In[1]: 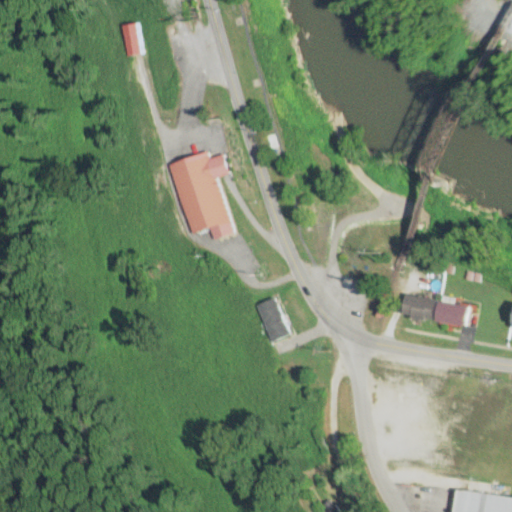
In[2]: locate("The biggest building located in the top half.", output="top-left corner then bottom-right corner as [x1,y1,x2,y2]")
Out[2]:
[170,152,237,241]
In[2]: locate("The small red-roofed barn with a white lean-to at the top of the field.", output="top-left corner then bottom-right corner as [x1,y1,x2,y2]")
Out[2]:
[122,21,147,56]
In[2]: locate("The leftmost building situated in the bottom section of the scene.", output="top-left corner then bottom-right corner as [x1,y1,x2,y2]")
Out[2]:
[256,298,292,342]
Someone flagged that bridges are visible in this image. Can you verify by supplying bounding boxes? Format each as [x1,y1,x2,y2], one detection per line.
[396,6,512,265]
